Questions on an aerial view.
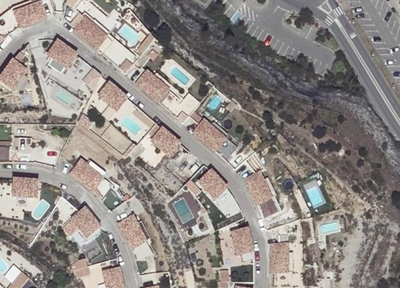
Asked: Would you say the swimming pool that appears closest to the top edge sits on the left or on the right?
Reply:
left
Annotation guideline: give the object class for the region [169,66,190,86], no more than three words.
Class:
swimming pool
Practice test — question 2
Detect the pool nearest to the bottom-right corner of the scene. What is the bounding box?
[320,222,340,234]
